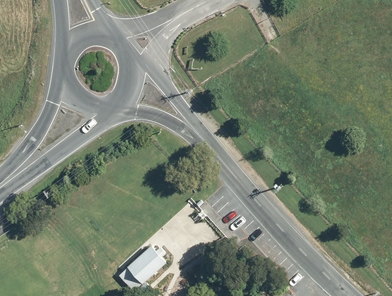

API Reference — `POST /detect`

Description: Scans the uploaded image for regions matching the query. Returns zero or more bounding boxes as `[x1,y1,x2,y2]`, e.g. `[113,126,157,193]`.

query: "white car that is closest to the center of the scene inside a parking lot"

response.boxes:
[230,216,247,232]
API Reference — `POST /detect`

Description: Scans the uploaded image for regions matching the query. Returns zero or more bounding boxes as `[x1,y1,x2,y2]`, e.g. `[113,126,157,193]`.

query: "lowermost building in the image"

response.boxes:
[119,246,166,290]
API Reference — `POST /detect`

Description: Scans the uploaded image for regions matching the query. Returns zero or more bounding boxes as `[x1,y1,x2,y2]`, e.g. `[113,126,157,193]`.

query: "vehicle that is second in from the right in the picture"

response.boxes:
[248,228,264,242]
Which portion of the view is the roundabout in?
top left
